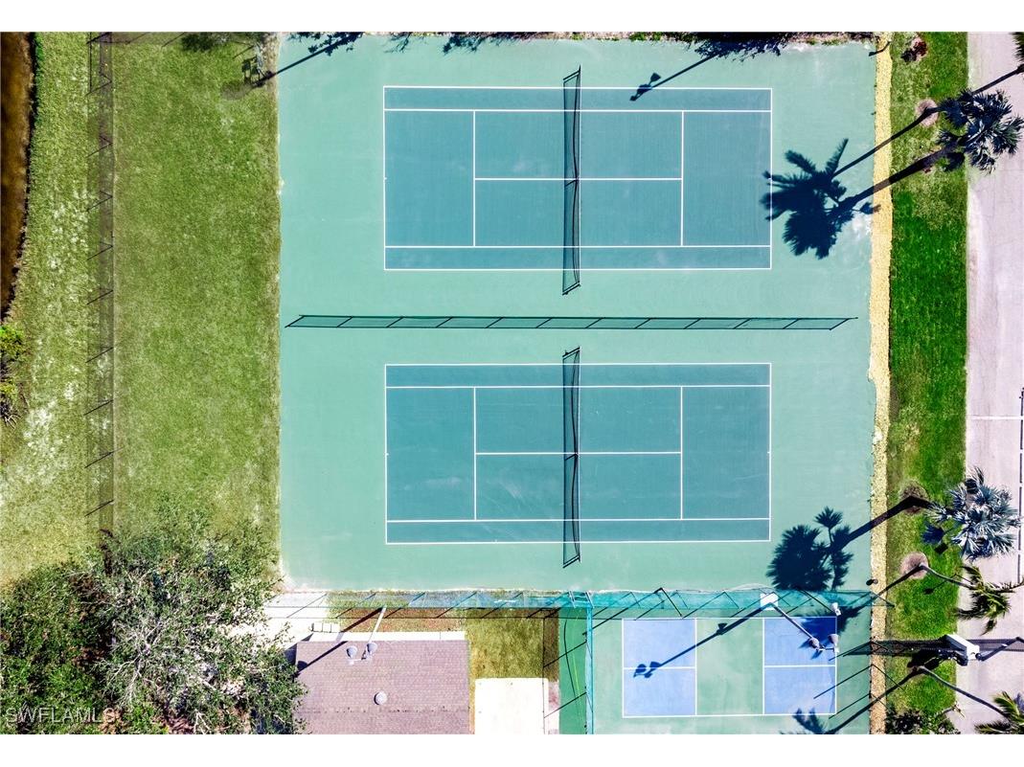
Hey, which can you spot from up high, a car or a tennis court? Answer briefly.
tennis court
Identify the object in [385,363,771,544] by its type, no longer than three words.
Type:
tennis court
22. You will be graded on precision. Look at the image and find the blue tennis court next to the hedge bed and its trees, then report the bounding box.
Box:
[383,86,772,270]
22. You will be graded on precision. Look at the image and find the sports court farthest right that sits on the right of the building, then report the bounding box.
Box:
[622,617,837,718]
